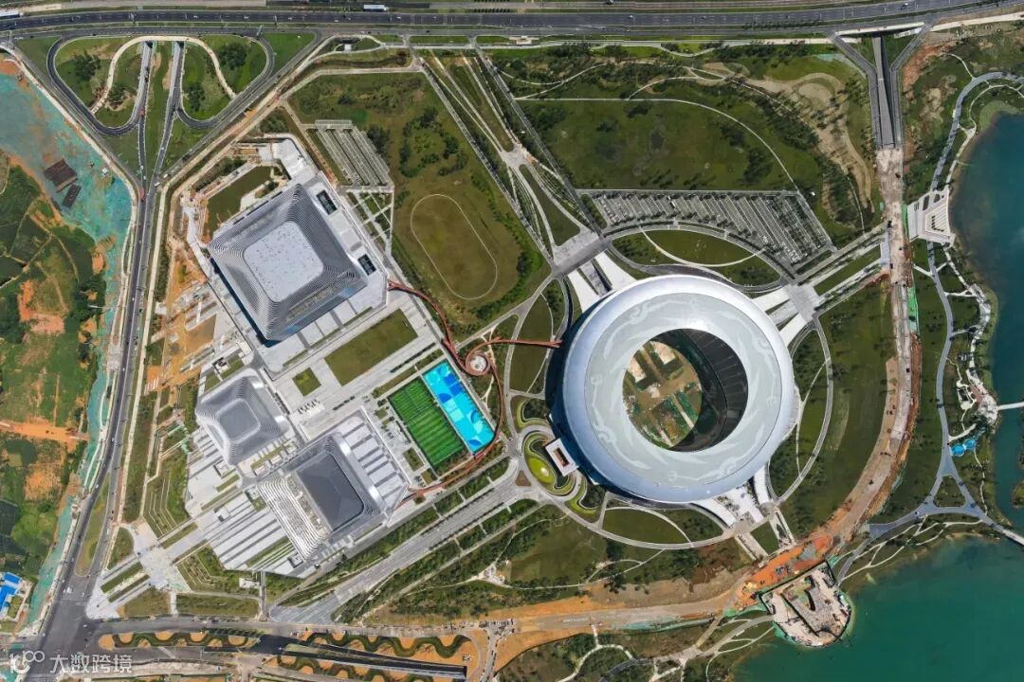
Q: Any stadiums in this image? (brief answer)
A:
Yes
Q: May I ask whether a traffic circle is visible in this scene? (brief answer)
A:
No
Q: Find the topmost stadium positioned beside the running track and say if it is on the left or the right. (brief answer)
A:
left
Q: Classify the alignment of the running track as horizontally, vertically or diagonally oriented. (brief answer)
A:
diagonally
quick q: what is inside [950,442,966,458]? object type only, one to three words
swimming pool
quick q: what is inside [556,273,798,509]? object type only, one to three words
stadium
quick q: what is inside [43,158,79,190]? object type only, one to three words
house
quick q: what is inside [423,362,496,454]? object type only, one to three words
sports court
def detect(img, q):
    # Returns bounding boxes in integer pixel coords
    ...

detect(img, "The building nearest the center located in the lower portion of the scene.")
[545,438,578,476]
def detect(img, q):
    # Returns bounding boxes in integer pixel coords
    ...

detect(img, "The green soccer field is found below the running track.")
[385,374,467,471]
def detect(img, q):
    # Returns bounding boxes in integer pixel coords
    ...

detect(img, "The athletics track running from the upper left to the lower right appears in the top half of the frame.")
[409,193,497,300]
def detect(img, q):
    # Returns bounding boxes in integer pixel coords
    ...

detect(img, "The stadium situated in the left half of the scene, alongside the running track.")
[207,139,388,381]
